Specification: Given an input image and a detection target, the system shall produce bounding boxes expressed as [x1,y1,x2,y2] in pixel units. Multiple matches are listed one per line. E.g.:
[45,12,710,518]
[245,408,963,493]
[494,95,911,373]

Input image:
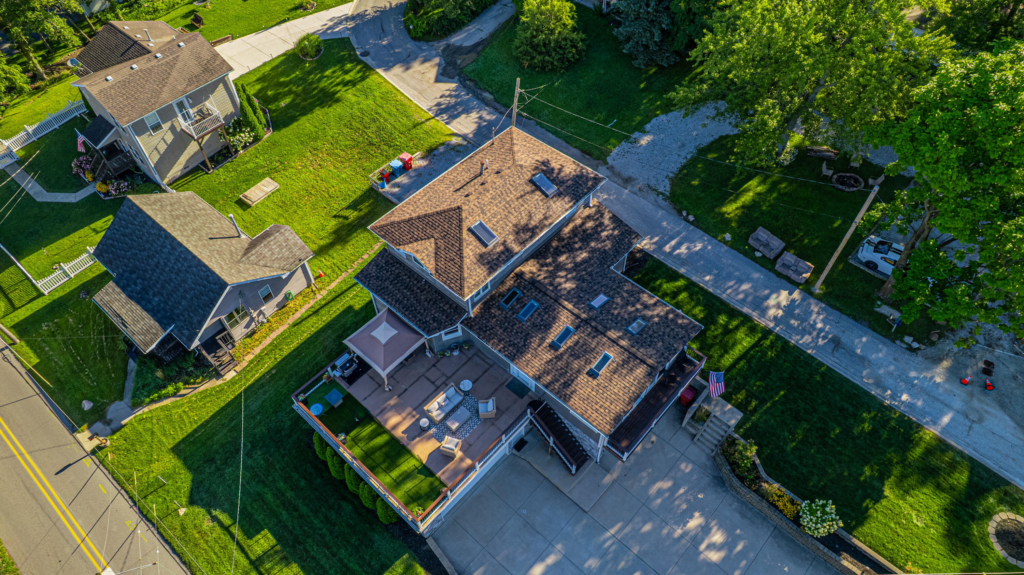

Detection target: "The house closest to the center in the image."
[352,124,704,469]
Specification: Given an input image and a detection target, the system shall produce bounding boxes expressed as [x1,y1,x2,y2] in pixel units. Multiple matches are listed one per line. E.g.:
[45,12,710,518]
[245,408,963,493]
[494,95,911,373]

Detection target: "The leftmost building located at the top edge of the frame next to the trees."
[71,19,248,193]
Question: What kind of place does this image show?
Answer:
residential area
